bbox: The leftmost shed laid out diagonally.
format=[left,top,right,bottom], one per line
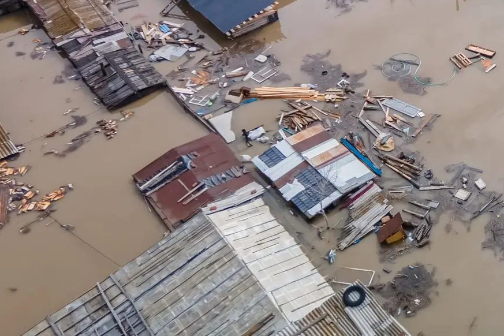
[21,0,168,112]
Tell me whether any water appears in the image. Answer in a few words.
Yes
